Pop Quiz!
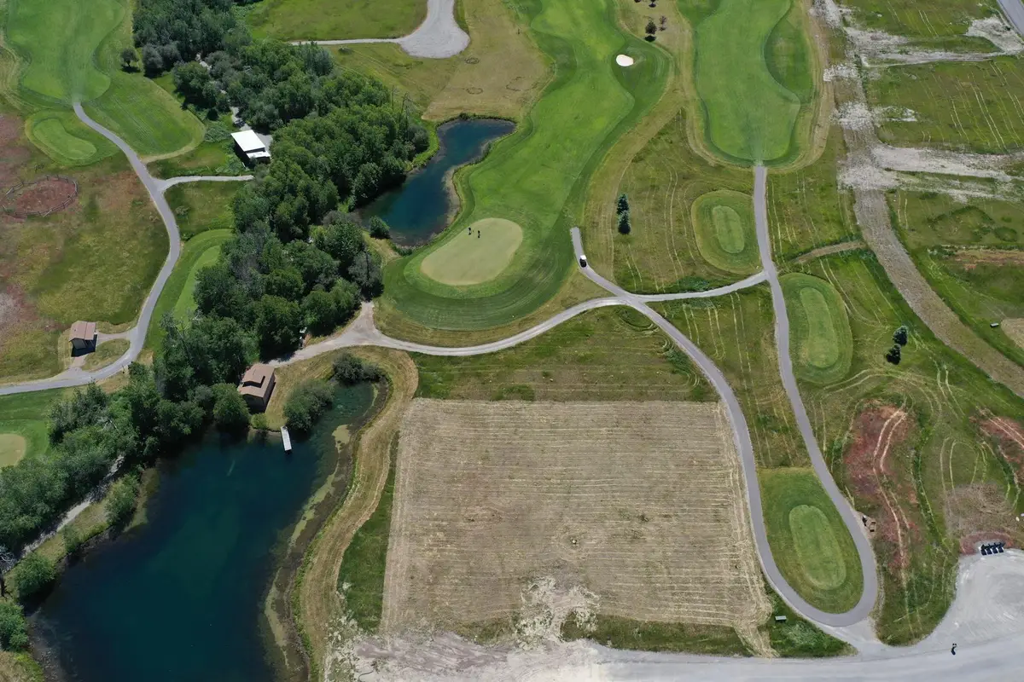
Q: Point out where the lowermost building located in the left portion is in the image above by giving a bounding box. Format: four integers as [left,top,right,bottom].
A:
[240,364,280,412]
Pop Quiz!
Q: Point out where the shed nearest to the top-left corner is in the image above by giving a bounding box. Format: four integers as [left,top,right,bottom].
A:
[233,129,266,171]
